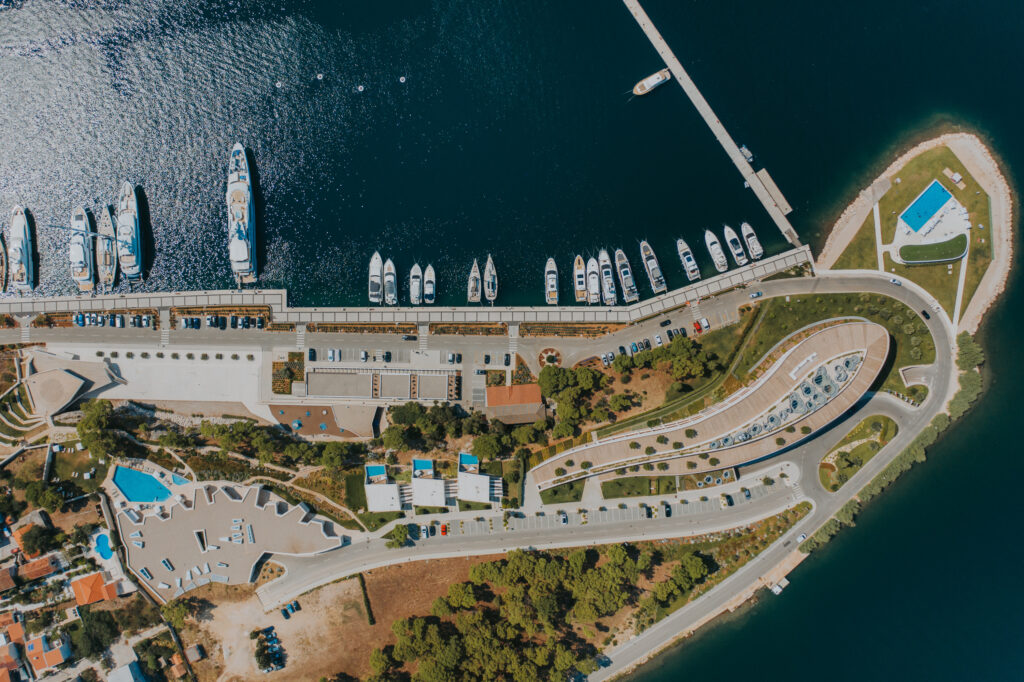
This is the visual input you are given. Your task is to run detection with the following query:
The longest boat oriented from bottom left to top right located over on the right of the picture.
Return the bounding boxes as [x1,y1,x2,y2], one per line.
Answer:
[627,68,674,104]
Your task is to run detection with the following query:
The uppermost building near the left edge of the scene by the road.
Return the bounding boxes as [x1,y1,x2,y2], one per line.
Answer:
[26,351,127,418]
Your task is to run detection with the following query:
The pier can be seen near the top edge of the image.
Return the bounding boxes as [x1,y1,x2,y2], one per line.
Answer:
[622,0,799,242]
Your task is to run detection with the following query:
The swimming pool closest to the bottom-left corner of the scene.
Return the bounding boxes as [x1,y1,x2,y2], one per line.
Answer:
[93,534,113,560]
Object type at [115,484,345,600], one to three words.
building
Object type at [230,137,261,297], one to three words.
boat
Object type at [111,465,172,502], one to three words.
swimming pool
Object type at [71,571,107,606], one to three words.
house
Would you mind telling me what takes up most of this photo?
water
